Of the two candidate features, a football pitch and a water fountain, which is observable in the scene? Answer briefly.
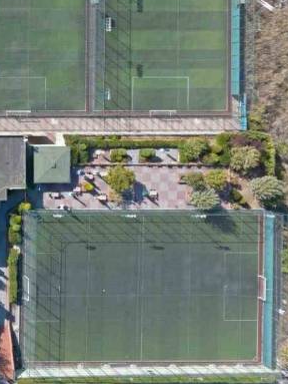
football pitch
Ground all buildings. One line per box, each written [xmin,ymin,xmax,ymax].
[0,135,27,194]
[33,146,70,183]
